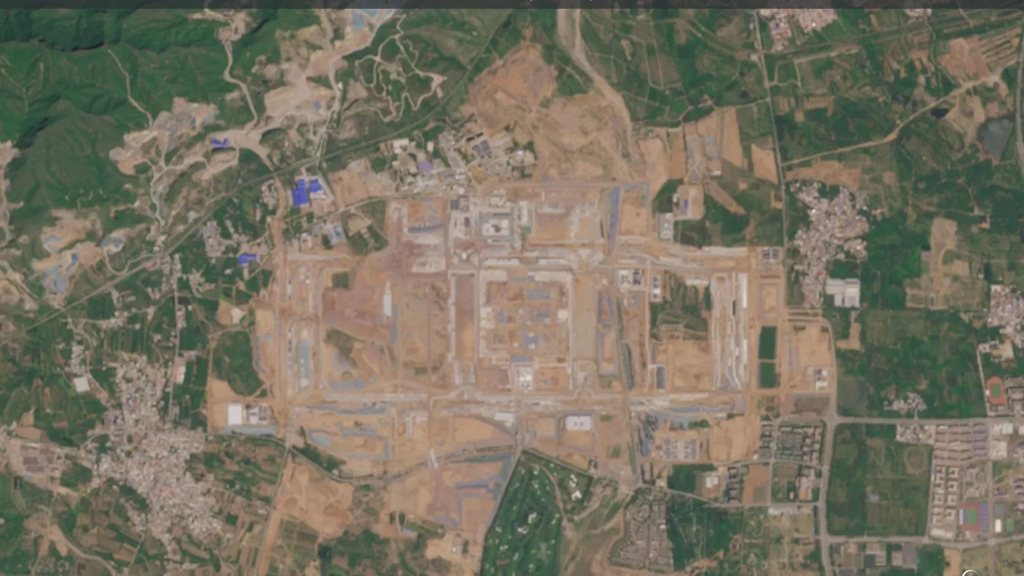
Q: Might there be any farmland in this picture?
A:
Yes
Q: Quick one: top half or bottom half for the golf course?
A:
bottom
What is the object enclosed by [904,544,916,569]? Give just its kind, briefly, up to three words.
building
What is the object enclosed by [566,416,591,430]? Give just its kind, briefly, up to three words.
building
